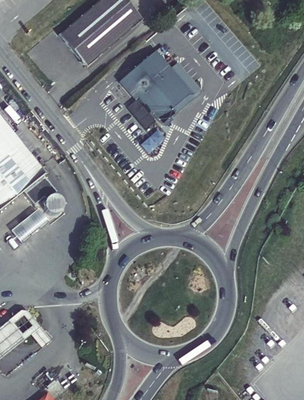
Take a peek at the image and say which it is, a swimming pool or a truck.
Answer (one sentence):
Visible in the photo is a truck.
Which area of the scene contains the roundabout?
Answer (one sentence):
The roundabout sits in the bottom section of the image.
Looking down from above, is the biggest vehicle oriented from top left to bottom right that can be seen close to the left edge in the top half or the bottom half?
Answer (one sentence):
Seen from above, the biggest vehicle oriented from top left to bottom right that can be seen close to the left edge lies in the top half of the view.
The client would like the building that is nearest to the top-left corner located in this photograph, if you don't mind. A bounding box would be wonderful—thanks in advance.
[59,0,142,64]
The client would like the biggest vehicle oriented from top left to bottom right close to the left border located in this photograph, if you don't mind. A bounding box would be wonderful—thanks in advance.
[4,106,24,127]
